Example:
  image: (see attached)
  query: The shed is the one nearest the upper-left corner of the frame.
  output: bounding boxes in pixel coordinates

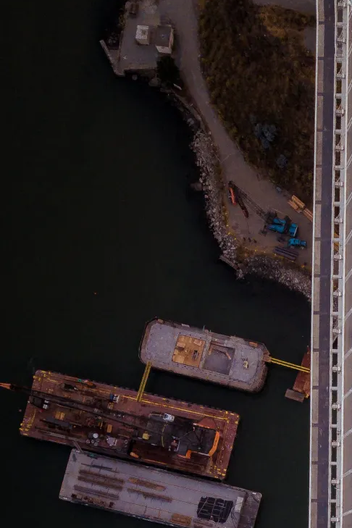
[136,26,153,47]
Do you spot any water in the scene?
Yes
